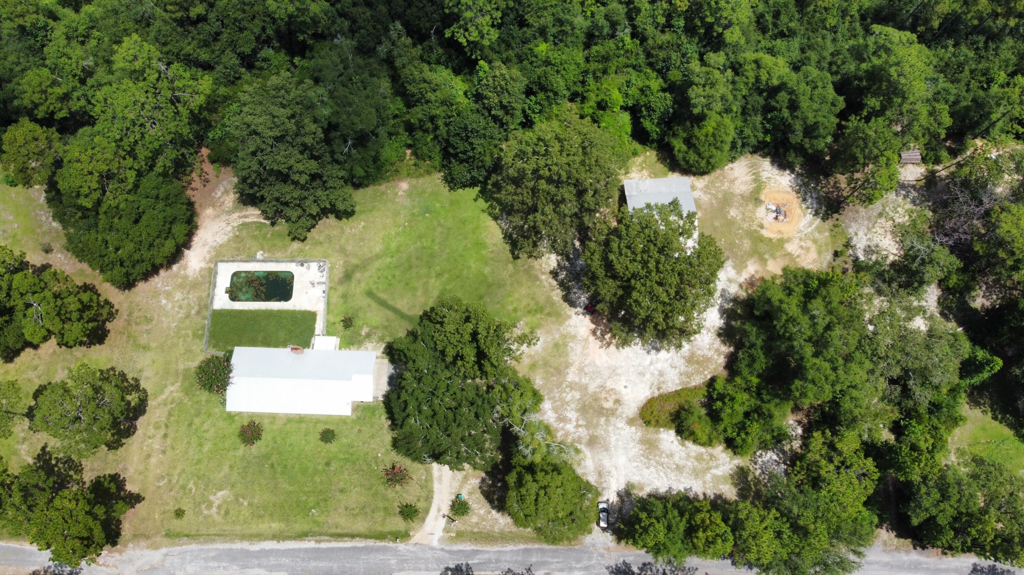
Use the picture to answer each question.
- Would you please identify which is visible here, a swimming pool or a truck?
swimming pool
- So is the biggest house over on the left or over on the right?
left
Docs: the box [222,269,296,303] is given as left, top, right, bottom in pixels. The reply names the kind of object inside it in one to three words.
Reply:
swimming pool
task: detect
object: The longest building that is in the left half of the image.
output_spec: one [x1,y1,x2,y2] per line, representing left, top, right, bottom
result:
[225,344,376,416]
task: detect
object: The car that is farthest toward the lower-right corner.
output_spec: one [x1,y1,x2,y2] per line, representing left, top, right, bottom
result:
[597,501,610,530]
